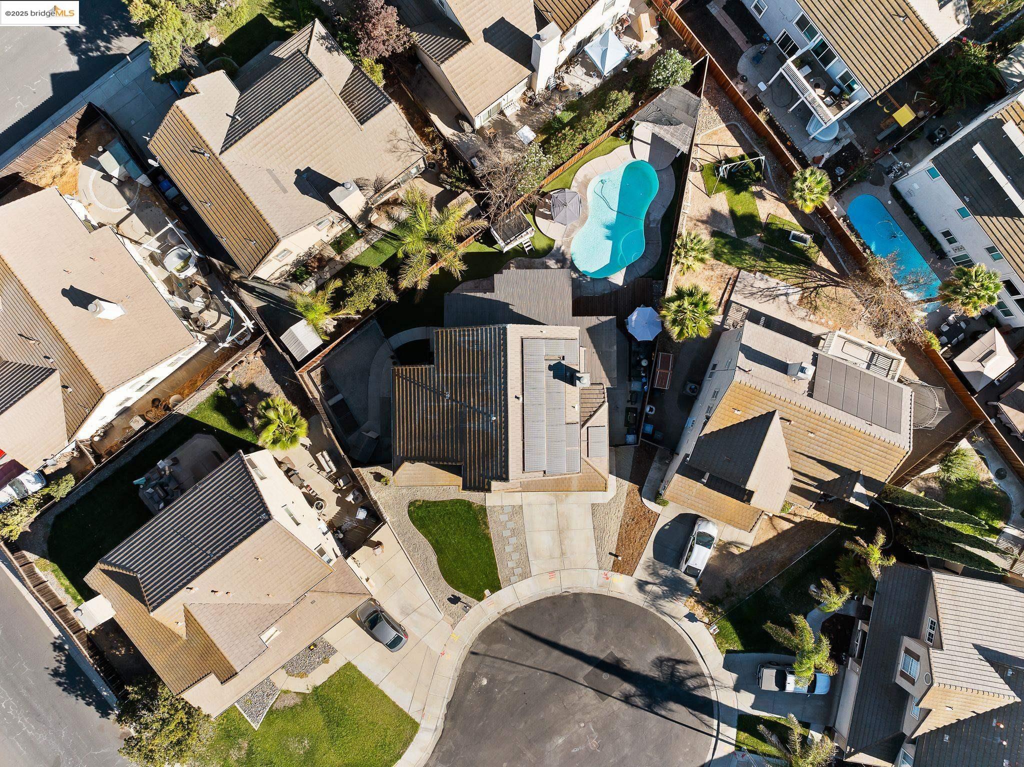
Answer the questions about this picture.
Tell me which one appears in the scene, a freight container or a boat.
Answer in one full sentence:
This aerial view contains a boat.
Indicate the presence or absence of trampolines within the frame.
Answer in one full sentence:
Yes, looking at the shot, I can spot a trampoline.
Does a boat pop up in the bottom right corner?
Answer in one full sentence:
No, there's no boat to be seen in the bottom right corner.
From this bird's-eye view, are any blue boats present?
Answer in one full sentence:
No, the frame has no blue boat in it.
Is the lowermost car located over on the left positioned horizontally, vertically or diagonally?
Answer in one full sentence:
The lowermost car located over on the left has been laid out diagonally relative to the frame.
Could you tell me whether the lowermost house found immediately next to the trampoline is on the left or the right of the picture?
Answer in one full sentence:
It is on the right.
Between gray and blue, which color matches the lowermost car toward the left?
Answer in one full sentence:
In this view, the lowermost car toward the left is gray.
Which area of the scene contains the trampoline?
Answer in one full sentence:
The trampoline is located in the right region of the scene.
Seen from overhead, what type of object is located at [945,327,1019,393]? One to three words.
gazebo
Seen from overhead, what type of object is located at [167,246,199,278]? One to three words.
boat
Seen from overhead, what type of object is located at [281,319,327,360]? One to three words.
shed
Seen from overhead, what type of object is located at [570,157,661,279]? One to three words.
swimming pool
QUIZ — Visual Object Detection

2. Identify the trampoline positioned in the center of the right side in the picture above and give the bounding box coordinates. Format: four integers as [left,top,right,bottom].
[896,378,953,436]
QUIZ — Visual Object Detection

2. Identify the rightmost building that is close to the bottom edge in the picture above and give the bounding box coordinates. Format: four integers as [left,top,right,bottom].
[838,558,1024,767]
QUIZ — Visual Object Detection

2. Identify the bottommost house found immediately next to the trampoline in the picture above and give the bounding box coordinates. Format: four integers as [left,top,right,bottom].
[662,320,914,533]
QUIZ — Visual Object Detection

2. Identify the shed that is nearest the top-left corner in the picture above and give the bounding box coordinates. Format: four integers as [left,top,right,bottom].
[96,132,147,185]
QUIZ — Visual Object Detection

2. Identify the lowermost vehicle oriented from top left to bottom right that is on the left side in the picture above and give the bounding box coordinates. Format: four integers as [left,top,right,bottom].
[357,599,409,654]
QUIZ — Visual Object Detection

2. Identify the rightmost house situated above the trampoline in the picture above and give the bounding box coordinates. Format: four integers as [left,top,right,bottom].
[893,83,1024,320]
